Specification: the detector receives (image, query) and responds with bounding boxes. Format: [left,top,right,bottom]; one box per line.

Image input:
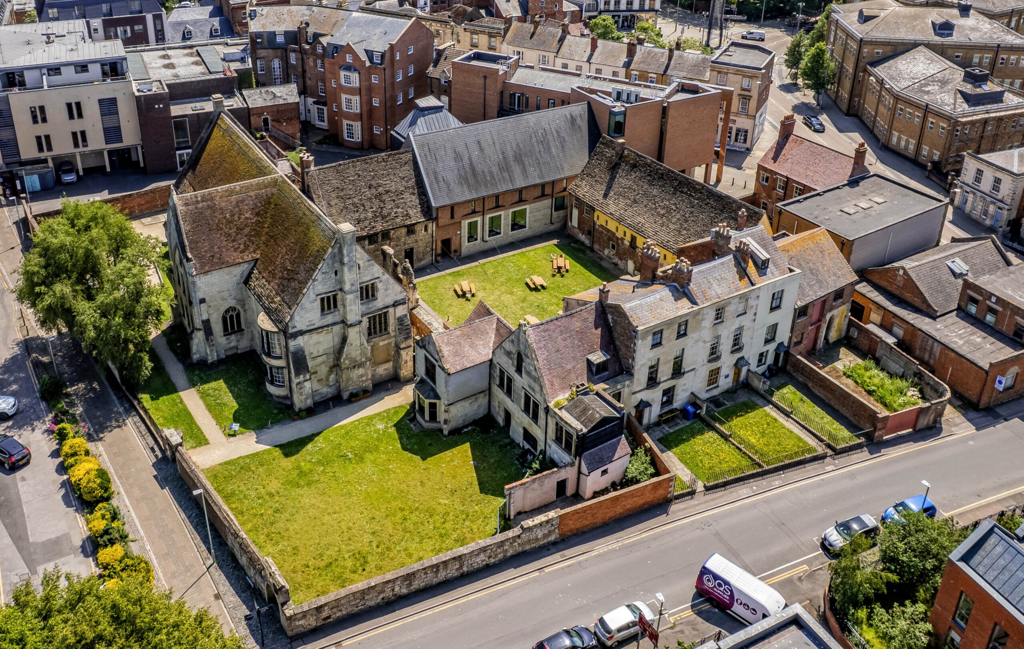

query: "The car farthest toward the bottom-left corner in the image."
[0,432,30,468]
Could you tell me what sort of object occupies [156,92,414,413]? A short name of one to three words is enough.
church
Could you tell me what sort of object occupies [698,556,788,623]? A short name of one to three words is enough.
van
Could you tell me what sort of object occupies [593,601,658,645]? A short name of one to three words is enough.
car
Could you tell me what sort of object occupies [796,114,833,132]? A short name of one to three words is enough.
car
